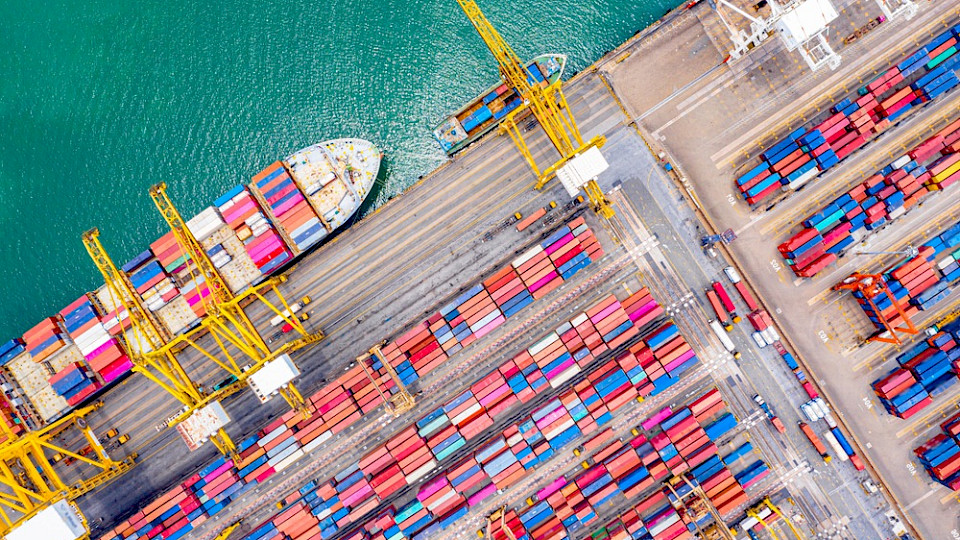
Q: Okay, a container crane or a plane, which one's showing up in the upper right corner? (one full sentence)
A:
There is a container crane in the upper right corner.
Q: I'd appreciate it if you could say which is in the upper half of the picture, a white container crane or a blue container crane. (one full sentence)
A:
The feature located in the upper half of the picture is a white container crane.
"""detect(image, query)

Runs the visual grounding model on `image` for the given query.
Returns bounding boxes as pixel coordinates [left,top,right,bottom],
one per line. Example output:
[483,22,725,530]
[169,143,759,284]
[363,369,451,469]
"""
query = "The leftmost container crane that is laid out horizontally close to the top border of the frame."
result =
[685,0,836,69]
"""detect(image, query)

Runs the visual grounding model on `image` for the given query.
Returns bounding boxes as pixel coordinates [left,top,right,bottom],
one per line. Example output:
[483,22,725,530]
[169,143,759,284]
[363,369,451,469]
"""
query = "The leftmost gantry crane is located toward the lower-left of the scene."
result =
[0,404,135,540]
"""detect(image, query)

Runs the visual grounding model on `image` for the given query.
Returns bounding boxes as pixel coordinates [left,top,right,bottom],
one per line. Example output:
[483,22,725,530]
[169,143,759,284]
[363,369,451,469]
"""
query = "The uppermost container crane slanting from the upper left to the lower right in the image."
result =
[457,0,618,217]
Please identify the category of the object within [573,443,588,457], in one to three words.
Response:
vehicle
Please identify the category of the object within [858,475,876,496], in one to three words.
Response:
work vehicle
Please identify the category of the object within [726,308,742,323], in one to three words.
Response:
vehicle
